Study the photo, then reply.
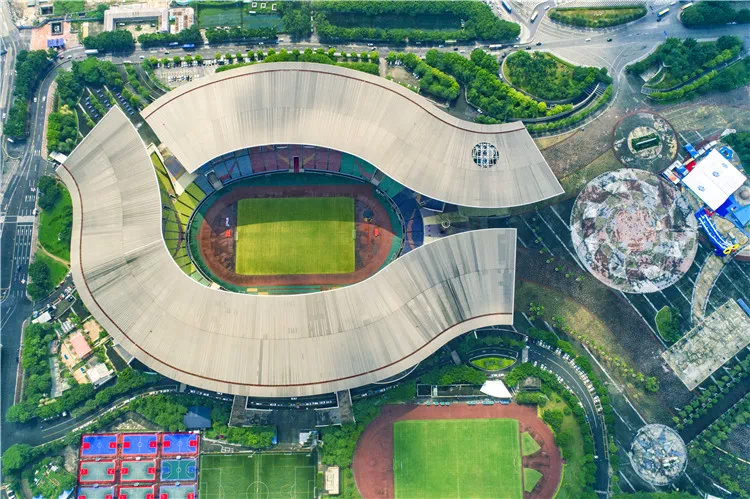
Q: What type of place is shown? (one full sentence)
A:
This looks like a sports ground.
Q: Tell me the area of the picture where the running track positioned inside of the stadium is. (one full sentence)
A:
The running track positioned inside of the stadium appears toward the center of the photo.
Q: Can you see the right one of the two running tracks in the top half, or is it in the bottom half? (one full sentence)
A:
Seen from above, the right one of the two running tracks lies in the bottom half of the view.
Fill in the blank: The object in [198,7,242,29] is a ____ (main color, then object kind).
green sports court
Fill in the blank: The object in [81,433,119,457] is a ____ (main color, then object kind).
blue basketball court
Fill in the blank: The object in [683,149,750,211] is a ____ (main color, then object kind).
white tent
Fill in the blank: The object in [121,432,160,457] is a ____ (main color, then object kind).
blue basketball court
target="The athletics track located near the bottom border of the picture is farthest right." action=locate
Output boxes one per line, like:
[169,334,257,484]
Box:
[352,403,565,499]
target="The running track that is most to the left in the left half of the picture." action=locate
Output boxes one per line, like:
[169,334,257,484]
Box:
[198,185,393,287]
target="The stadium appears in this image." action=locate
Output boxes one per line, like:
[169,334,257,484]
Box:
[56,62,565,397]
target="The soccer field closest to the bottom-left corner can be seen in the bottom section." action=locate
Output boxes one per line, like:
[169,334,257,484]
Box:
[199,453,317,499]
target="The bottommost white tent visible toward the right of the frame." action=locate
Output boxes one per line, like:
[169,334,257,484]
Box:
[480,380,513,399]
